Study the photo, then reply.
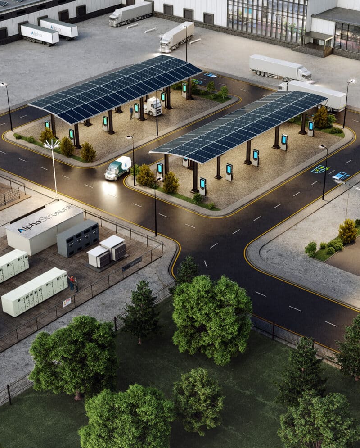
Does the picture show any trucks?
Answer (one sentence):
Yes, there's a truck here.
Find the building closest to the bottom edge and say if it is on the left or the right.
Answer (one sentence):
The building closest to the bottom edge is on the left side of the image.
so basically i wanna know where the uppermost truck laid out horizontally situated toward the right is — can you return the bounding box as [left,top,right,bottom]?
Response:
[248,53,312,82]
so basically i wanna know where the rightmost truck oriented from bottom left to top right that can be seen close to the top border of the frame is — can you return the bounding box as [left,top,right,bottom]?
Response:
[159,20,194,51]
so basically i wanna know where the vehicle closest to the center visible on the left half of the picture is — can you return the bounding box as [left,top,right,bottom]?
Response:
[101,151,136,180]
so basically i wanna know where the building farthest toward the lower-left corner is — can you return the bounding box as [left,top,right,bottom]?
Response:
[4,199,84,254]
